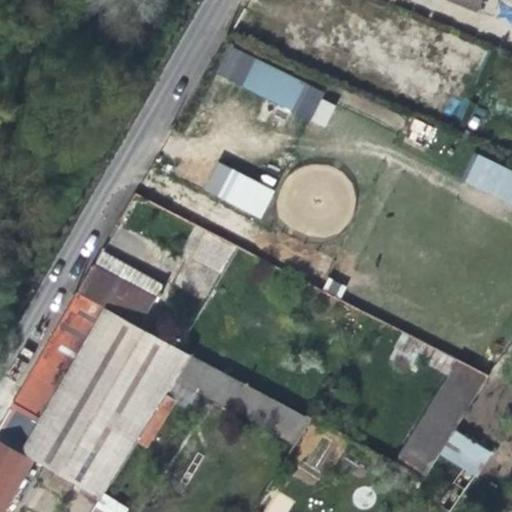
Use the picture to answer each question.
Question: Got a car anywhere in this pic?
Yes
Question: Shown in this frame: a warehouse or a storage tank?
warehouse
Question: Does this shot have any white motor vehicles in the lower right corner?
No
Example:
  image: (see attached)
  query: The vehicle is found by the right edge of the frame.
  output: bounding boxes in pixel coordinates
[470,106,488,130]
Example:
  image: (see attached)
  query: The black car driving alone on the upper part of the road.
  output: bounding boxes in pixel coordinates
[171,76,188,100]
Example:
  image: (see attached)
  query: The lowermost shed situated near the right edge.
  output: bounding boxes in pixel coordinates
[442,430,494,476]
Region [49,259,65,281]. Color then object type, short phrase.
gray car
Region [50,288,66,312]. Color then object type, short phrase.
white car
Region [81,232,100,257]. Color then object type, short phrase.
white car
